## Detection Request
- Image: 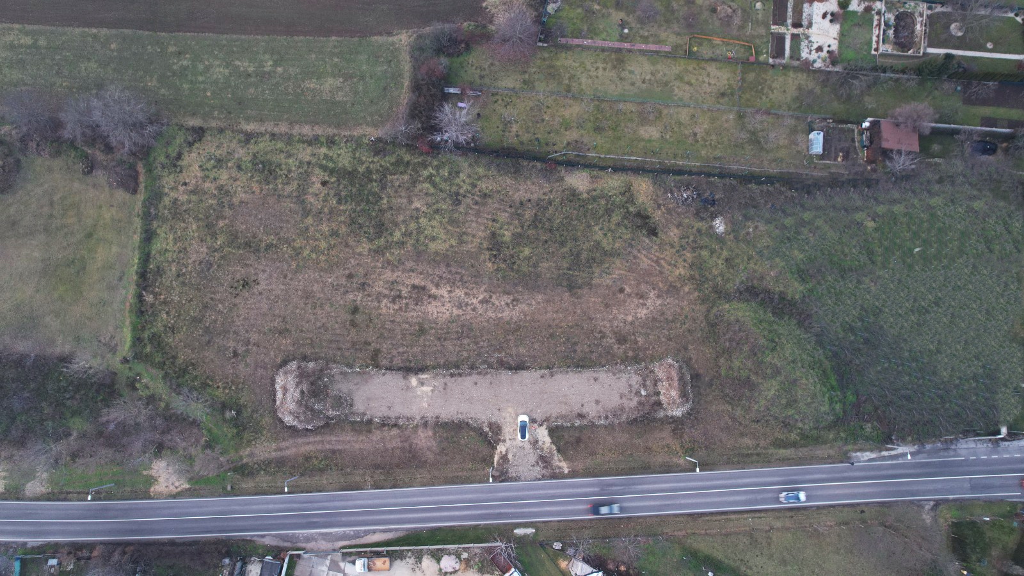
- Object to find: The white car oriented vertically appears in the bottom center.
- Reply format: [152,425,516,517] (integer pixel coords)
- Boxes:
[517,414,530,442]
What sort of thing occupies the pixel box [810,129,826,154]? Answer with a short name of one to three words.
greenhouse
